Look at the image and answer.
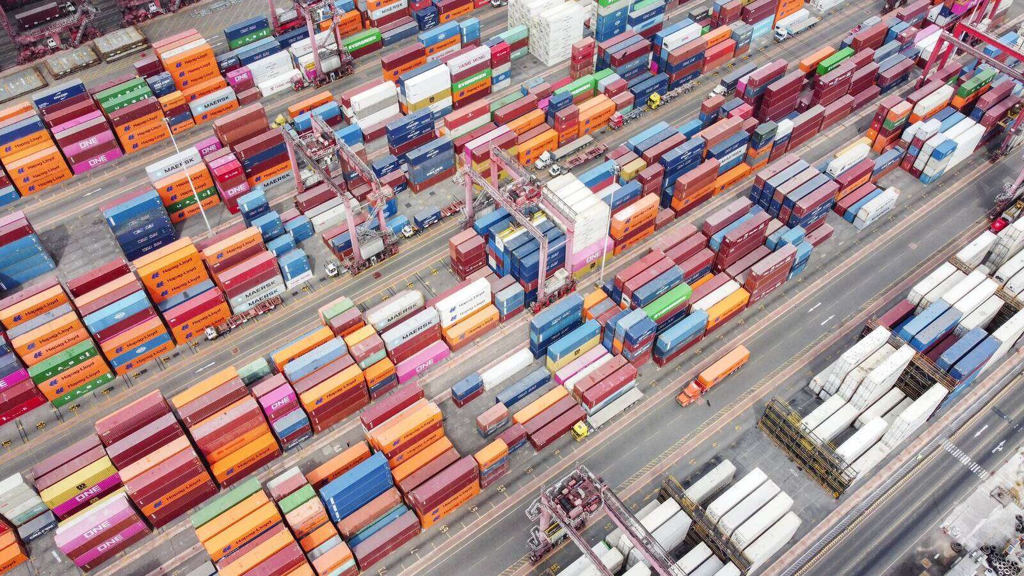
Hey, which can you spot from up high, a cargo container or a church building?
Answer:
cargo container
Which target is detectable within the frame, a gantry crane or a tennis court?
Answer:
gantry crane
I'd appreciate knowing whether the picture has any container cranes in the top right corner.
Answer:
Yes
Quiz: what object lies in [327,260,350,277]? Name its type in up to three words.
vehicle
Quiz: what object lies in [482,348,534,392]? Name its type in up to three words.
shipping container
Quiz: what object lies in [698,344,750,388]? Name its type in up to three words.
shipping container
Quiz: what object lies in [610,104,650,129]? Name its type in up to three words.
truck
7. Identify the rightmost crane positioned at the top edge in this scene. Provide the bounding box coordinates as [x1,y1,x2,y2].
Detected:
[903,16,1024,156]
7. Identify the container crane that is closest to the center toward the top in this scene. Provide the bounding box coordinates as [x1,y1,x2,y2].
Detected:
[453,140,588,309]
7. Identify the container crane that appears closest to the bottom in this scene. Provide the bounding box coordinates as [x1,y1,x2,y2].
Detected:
[525,459,696,576]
